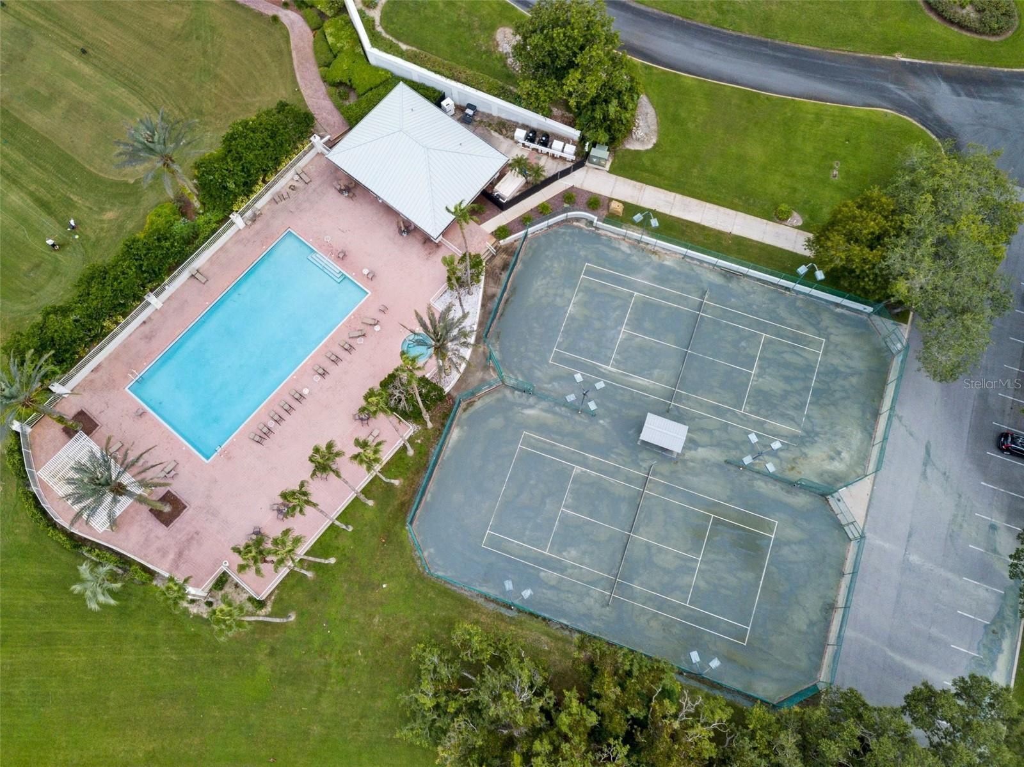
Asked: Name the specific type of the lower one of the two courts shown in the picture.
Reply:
tennis court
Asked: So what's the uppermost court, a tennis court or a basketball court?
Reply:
tennis court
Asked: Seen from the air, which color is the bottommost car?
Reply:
black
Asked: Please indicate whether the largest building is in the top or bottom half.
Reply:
top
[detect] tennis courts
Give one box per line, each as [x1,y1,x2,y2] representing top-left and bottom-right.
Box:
[487,219,893,495]
[408,383,850,702]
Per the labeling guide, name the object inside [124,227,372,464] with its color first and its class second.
blue swimming pool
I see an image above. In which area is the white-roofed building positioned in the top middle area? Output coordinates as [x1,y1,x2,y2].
[325,82,511,248]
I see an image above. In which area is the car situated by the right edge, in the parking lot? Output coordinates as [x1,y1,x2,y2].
[997,434,1024,463]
